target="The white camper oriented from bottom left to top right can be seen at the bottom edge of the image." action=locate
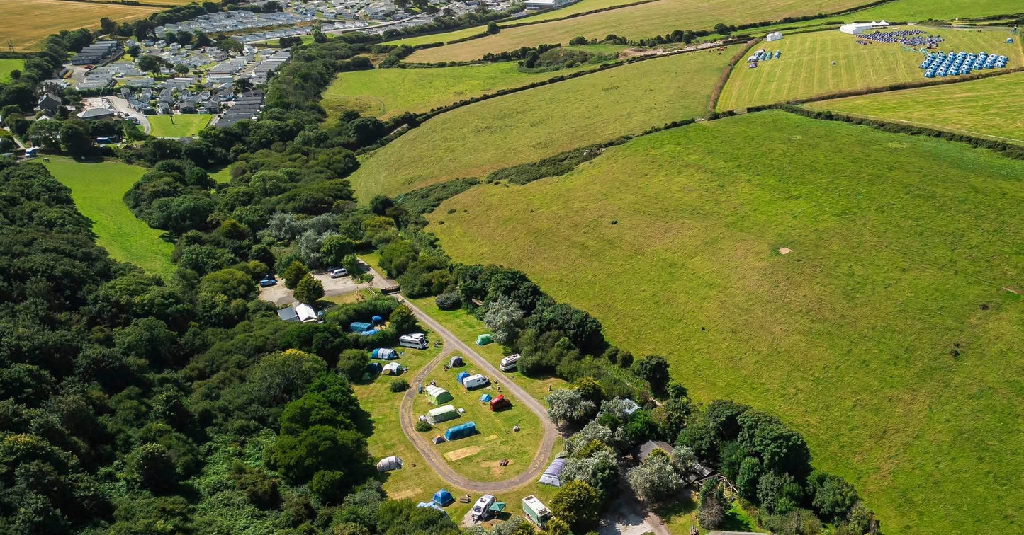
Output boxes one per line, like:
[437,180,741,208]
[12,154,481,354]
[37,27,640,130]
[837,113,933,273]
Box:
[471,494,494,526]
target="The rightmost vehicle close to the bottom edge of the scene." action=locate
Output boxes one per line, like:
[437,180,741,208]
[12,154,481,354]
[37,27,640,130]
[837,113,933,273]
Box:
[523,491,548,530]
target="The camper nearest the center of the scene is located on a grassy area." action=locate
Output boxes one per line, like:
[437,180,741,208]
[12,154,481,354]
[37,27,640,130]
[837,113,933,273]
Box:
[496,352,523,375]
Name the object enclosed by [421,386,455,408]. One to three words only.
tent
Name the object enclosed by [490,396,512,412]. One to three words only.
vehicle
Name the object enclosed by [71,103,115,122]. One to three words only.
house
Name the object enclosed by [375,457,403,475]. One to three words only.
tent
